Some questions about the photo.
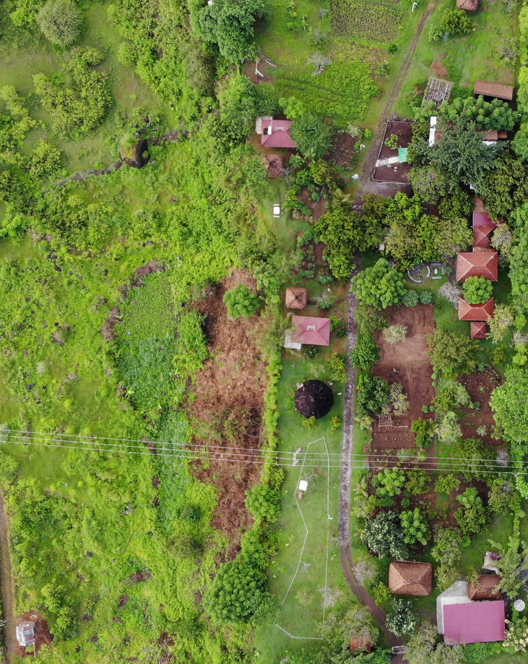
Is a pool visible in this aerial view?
No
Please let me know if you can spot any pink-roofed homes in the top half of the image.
Yes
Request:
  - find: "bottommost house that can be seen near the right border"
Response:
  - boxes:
[443,600,506,645]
